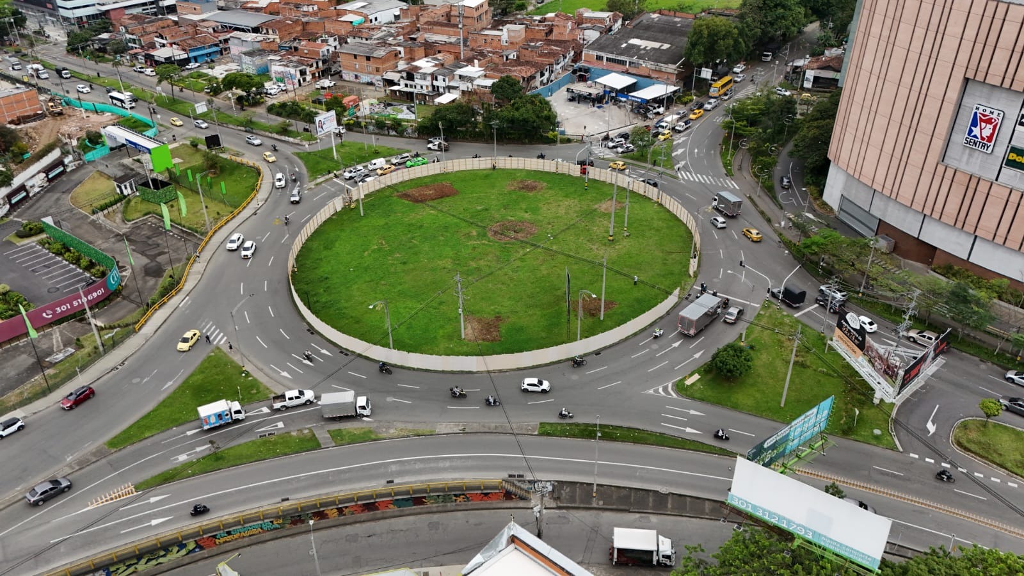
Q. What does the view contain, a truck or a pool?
truck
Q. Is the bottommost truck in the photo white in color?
Yes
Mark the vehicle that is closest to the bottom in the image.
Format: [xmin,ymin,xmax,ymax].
[607,526,676,563]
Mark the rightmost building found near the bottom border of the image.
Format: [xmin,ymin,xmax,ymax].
[457,512,591,576]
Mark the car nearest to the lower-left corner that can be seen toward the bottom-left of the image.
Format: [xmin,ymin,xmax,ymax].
[25,478,73,508]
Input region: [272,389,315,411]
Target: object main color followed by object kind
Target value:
white truck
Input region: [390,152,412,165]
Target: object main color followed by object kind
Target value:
gray vehicle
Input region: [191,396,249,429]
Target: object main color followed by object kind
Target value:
white truck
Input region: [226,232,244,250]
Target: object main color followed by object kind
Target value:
white car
